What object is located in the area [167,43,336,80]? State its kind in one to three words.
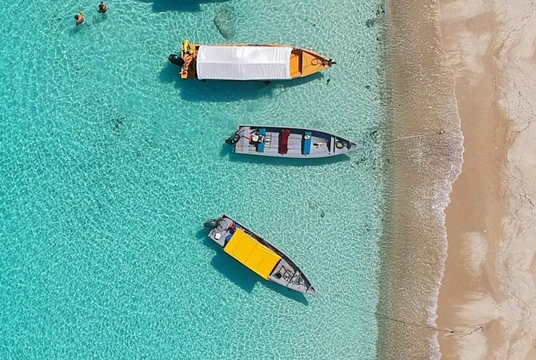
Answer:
boat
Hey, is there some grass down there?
No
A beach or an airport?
beach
